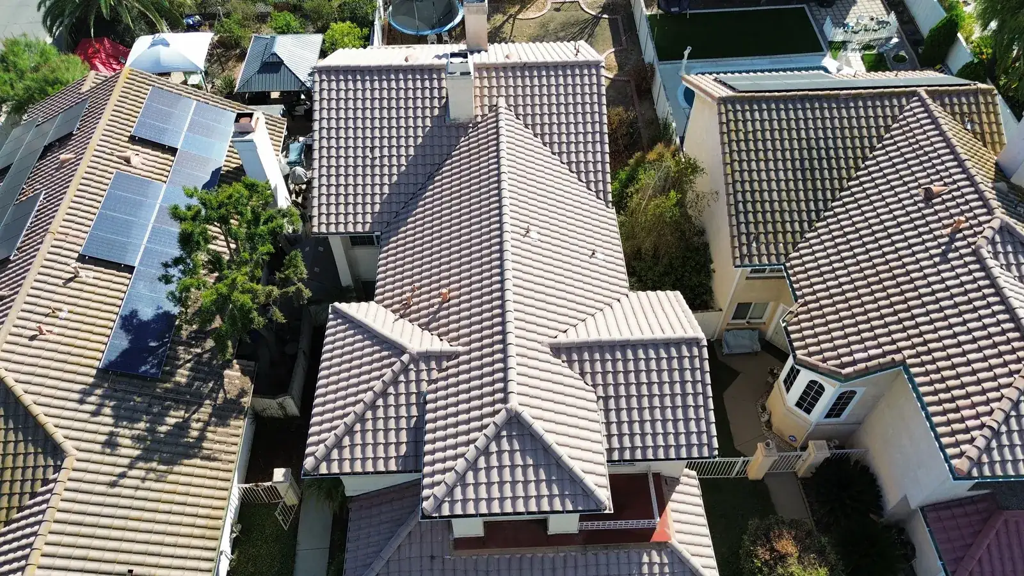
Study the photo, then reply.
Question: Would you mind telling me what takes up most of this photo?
buildings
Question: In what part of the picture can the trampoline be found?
top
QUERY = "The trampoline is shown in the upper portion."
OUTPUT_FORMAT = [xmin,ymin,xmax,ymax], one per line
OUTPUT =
[389,0,465,43]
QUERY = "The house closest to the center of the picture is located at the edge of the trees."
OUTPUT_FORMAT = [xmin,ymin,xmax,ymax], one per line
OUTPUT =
[301,0,719,576]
